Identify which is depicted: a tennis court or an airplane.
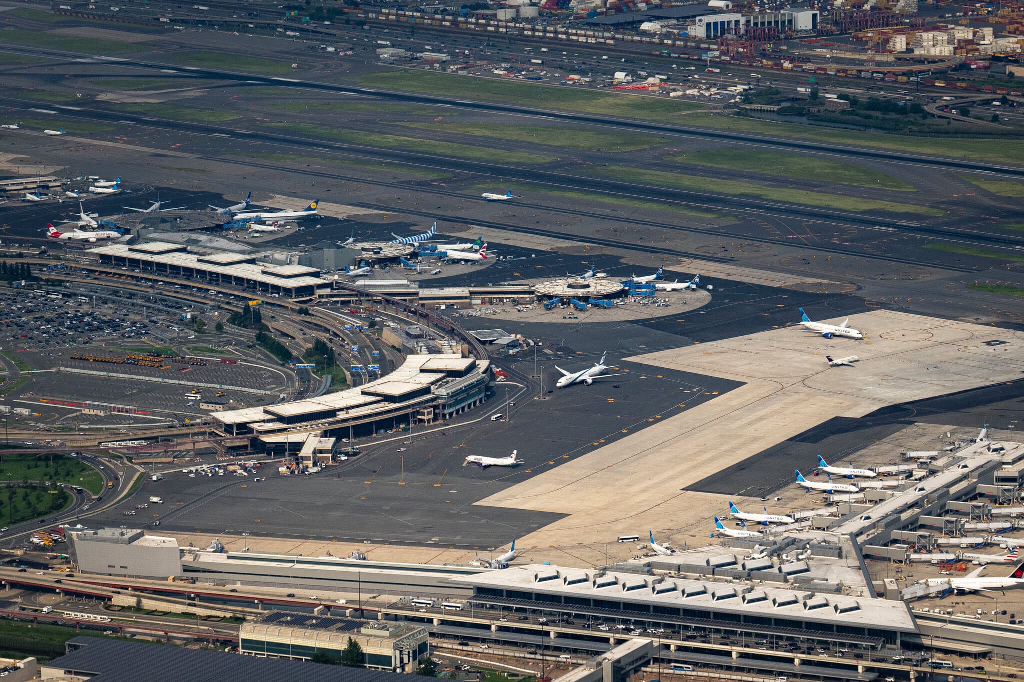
airplane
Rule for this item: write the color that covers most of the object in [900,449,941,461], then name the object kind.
white jet bridge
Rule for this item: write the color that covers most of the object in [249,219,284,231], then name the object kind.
white airplane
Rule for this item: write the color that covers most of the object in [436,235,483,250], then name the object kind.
white airplane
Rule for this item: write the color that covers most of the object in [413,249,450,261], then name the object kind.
blue jet bridge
